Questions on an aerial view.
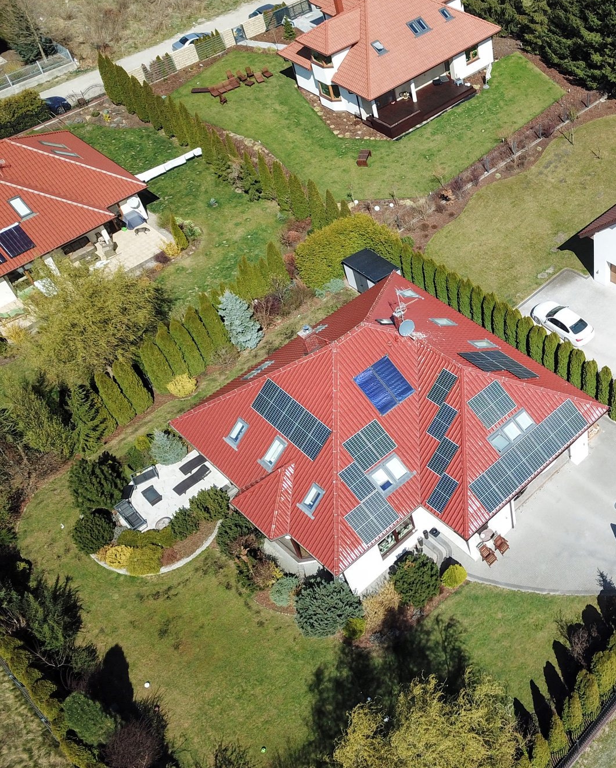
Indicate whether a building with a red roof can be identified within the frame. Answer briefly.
Yes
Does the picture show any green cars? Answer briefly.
No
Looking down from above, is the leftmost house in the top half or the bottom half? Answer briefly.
top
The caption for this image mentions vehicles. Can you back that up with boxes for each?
[523,295,593,344]
[169,27,214,51]
[247,0,293,23]
[17,94,75,126]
